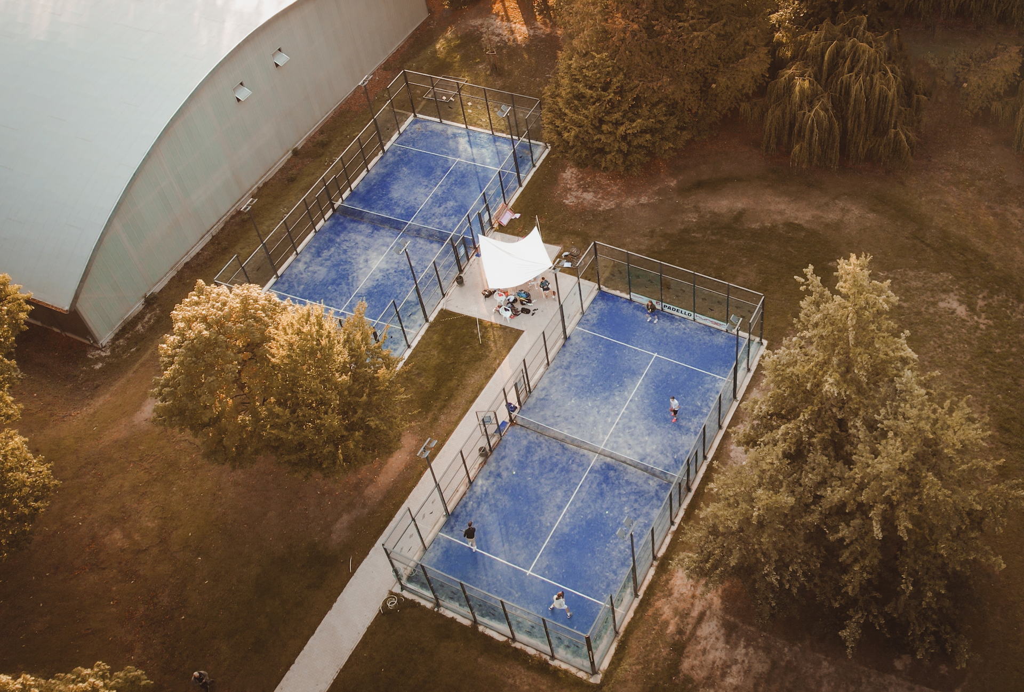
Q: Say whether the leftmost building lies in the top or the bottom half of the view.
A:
top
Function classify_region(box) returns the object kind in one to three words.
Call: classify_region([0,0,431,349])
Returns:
building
